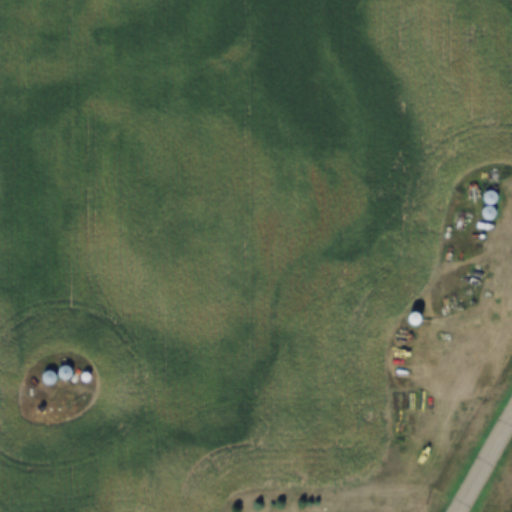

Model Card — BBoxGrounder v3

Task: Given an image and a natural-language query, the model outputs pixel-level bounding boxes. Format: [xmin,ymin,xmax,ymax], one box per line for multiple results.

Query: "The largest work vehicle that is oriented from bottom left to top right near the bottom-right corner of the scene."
[418,448,432,464]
